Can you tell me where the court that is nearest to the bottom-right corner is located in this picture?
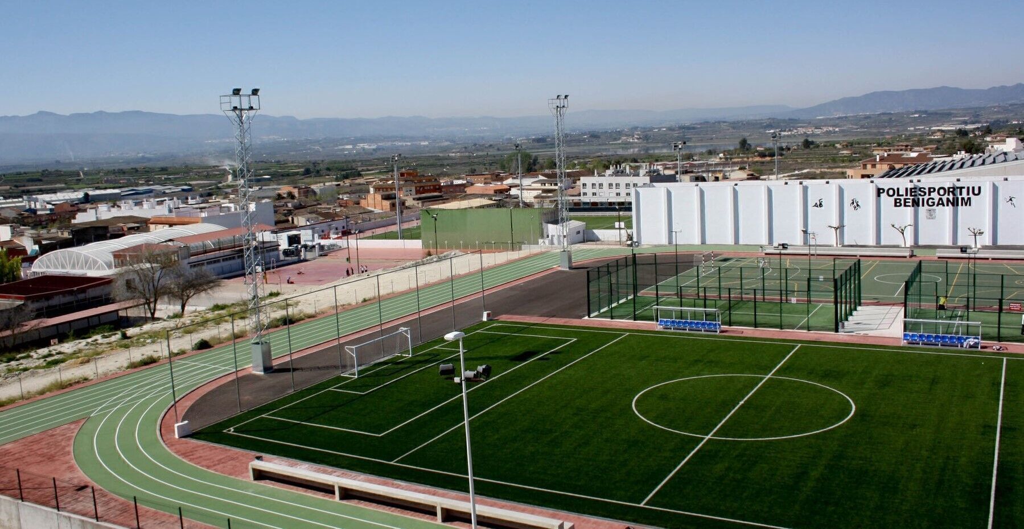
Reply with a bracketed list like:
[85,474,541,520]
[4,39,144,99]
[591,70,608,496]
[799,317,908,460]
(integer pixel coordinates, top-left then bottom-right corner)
[904,259,1024,343]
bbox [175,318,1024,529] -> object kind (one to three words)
sports field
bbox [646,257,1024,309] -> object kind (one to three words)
sports court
